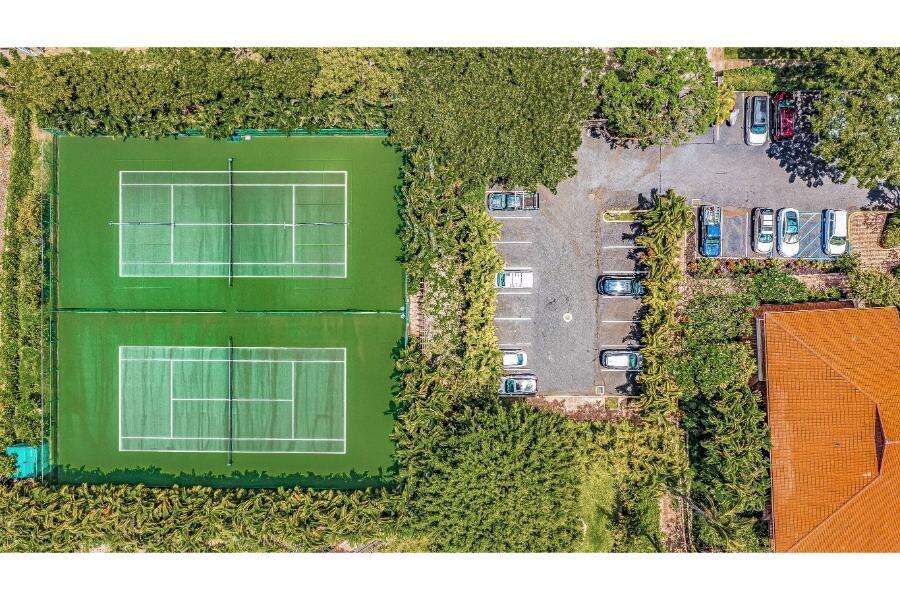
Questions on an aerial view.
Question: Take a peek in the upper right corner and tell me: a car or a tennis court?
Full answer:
Visible in the upper right corner is a car.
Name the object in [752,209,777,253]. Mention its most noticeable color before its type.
white car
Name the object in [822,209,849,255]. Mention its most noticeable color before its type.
white vehicle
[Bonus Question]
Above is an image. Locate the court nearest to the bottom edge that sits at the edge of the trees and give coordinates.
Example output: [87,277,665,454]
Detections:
[57,311,405,482]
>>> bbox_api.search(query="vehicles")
[744,97,770,146]
[599,351,644,372]
[597,275,645,297]
[698,206,722,257]
[489,350,526,368]
[487,190,540,211]
[730,109,743,126]
[489,269,534,290]
[776,210,802,256]
[822,209,849,255]
[752,209,777,253]
[499,374,540,395]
